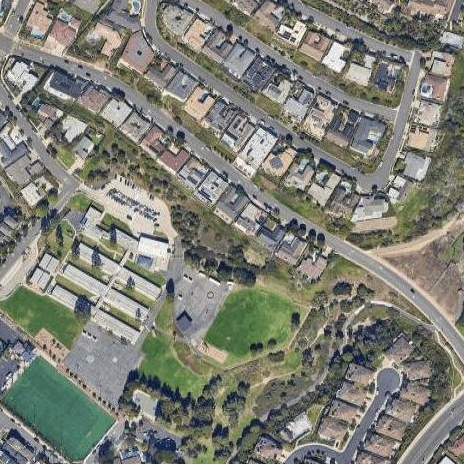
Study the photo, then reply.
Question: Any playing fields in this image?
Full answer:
Yes, a playing field can be made out from above.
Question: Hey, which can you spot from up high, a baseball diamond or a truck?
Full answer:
It is a baseball diamond that can be seen here.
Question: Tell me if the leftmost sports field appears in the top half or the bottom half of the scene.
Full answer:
You can find the leftmost sports field in the bottom half.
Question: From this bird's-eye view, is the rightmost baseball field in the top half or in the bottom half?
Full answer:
It is in the bottom half that the rightmost baseball field appears.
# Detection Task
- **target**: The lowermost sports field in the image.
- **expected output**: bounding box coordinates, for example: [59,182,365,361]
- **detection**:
[2,356,114,462]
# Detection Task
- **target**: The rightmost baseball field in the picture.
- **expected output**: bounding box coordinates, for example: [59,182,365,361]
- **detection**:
[197,287,309,367]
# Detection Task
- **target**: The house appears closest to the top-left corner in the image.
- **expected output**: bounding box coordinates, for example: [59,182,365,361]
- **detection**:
[27,4,54,36]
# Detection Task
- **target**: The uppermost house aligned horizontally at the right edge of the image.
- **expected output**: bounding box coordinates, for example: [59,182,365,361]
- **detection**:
[405,0,446,19]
